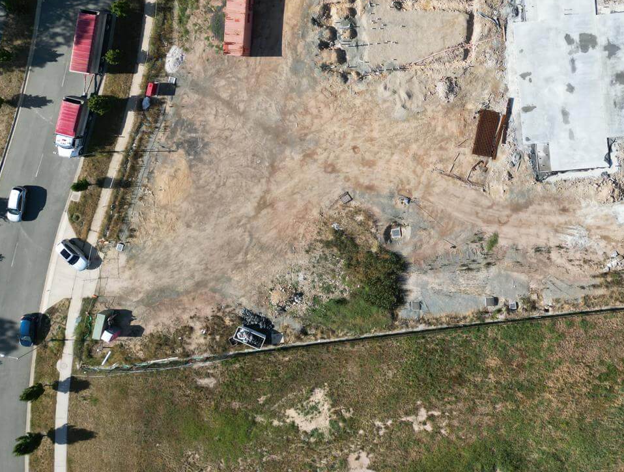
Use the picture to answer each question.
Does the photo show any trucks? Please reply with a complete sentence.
Yes, there's a truck down there.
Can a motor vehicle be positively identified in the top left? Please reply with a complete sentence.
Yes, the scene does show a motor vehicle in the top left.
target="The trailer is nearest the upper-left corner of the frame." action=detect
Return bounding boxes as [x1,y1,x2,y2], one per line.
[69,8,111,94]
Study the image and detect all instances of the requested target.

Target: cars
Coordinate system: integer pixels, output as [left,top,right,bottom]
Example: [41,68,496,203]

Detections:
[19,312,41,346]
[57,238,92,273]
[4,188,26,223]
